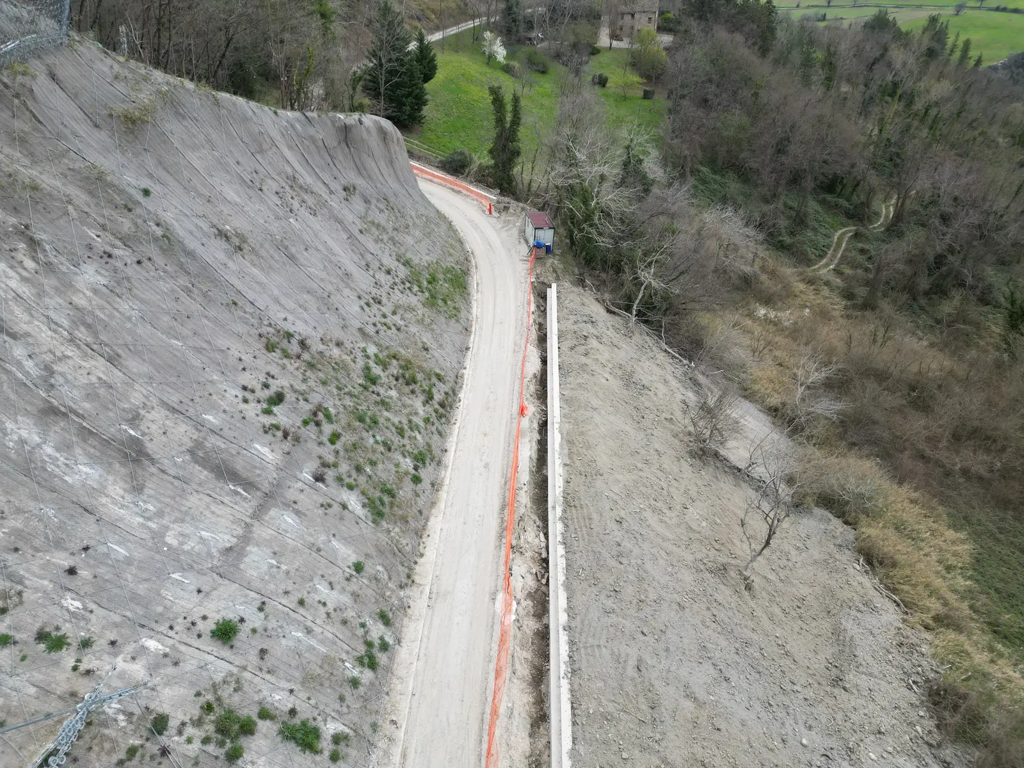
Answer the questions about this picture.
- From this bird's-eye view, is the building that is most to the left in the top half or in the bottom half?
top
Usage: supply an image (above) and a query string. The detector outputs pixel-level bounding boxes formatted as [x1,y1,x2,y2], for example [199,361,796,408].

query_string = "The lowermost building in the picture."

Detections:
[529,213,554,250]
